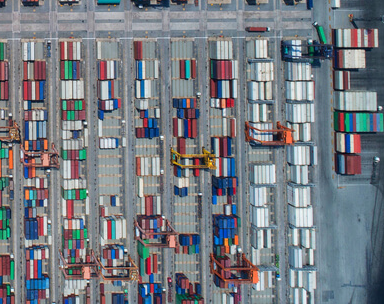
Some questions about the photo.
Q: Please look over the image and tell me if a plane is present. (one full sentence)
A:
No, the frame has no plane in it.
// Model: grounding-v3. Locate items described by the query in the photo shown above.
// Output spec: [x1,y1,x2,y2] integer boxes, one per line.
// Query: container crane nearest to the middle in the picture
[170,144,220,169]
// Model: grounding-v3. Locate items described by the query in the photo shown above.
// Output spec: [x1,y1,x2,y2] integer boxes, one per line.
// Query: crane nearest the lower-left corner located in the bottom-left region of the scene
[59,248,102,281]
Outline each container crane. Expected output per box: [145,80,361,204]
[0,116,22,141]
[59,248,102,281]
[244,120,295,146]
[97,251,144,282]
[20,142,61,168]
[210,252,261,283]
[170,144,220,169]
[134,218,180,248]
[279,38,334,61]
